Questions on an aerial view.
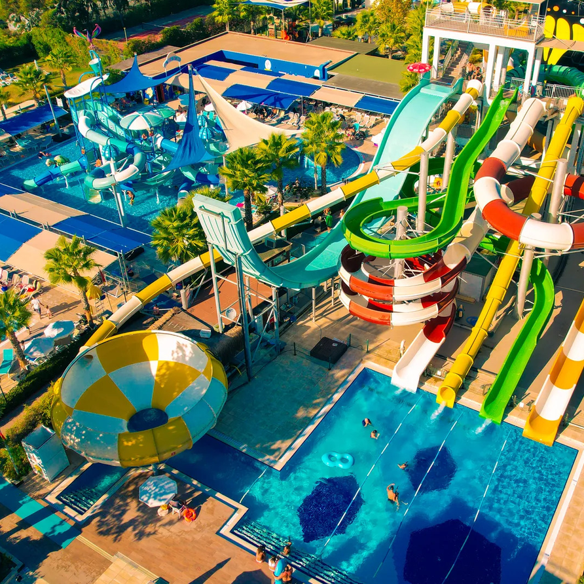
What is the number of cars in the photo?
none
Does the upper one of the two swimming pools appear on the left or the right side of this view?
left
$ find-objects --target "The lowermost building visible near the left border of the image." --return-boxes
[23,420,82,484]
